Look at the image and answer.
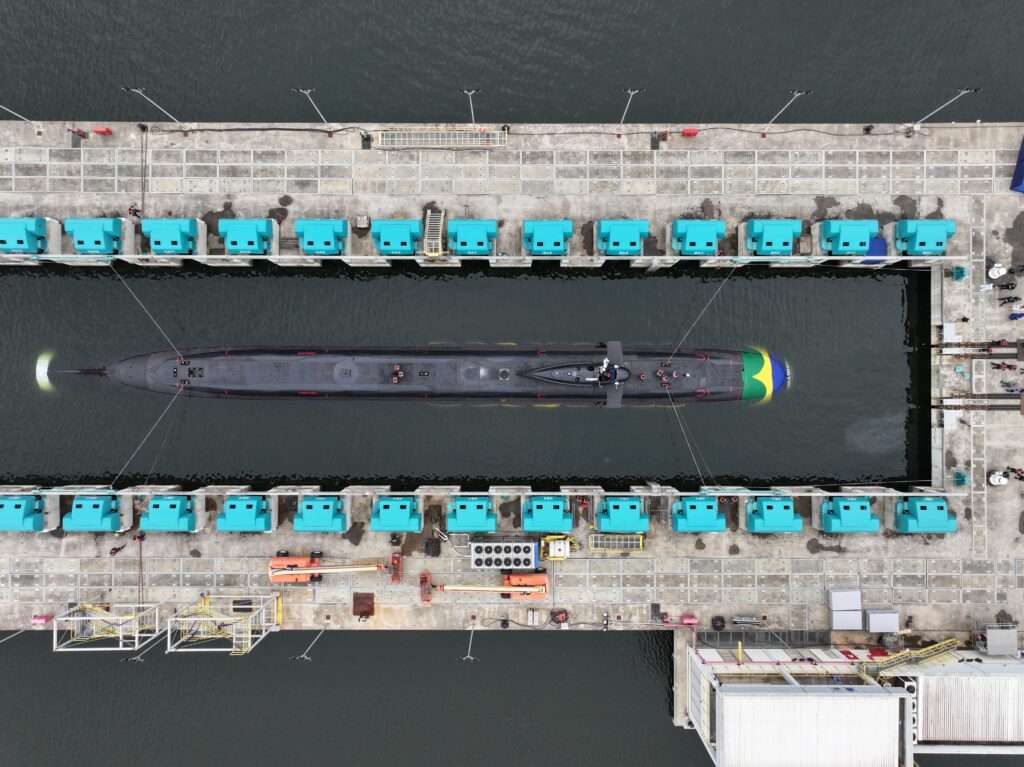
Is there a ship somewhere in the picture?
Yes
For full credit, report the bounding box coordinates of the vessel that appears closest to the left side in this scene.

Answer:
[36,342,790,406]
